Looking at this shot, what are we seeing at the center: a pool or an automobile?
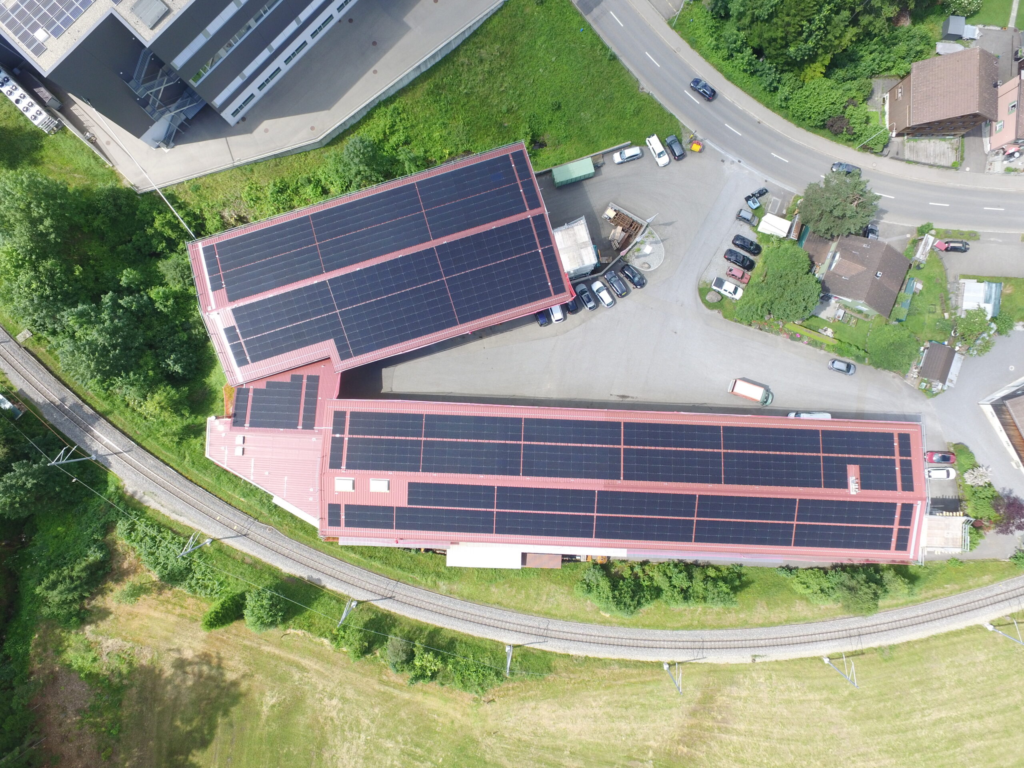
automobile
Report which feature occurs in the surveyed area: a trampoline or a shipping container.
shipping container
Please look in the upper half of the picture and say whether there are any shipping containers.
Yes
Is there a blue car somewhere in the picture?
Yes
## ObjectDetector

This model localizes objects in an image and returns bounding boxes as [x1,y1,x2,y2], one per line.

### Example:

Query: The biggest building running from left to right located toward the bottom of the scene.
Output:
[314,398,928,562]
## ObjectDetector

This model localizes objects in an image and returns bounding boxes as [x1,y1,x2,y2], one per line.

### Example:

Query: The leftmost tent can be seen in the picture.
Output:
[752,213,791,237]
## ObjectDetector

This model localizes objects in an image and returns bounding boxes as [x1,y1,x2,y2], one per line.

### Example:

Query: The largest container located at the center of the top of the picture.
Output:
[551,158,594,186]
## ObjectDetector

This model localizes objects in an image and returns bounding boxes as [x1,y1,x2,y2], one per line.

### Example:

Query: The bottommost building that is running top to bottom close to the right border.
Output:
[978,376,1024,487]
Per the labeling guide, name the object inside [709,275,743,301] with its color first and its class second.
white truck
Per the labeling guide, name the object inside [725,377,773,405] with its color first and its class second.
white truck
